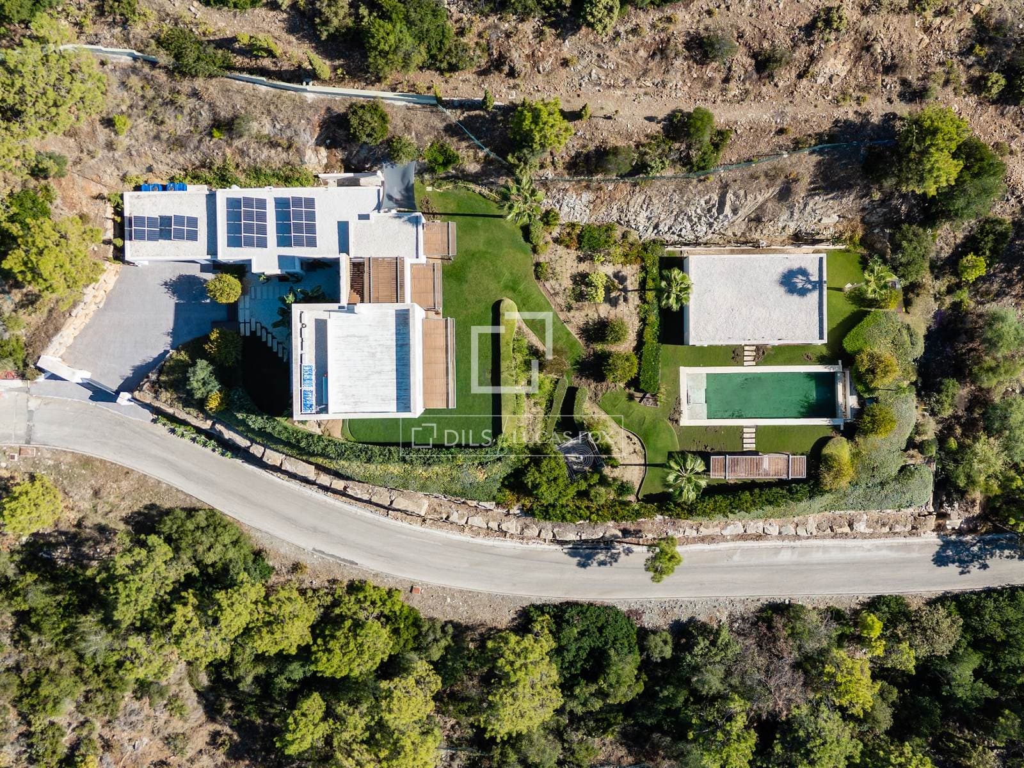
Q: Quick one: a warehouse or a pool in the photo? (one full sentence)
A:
Looking from above, you can make out a pool.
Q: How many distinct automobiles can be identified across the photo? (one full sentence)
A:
There are no automobiles in the image.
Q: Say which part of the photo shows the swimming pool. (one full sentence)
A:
The swimming pool is in the right part of the image.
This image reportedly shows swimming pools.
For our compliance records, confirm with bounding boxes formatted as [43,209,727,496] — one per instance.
[680,360,859,430]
